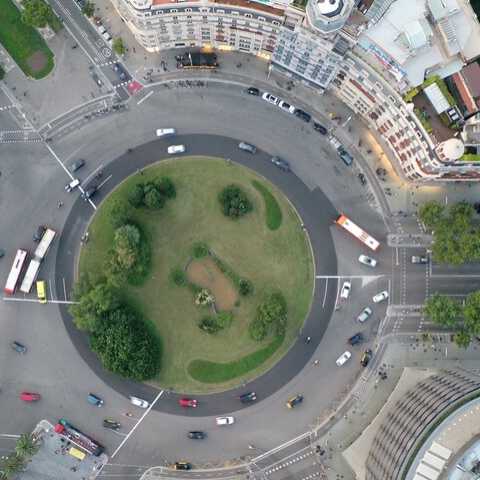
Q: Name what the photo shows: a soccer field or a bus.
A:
bus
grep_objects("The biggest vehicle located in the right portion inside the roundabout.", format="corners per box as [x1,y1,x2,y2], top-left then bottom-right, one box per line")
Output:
[331,211,381,253]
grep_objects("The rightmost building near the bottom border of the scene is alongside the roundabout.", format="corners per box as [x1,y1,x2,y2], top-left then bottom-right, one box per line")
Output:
[342,367,480,480]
